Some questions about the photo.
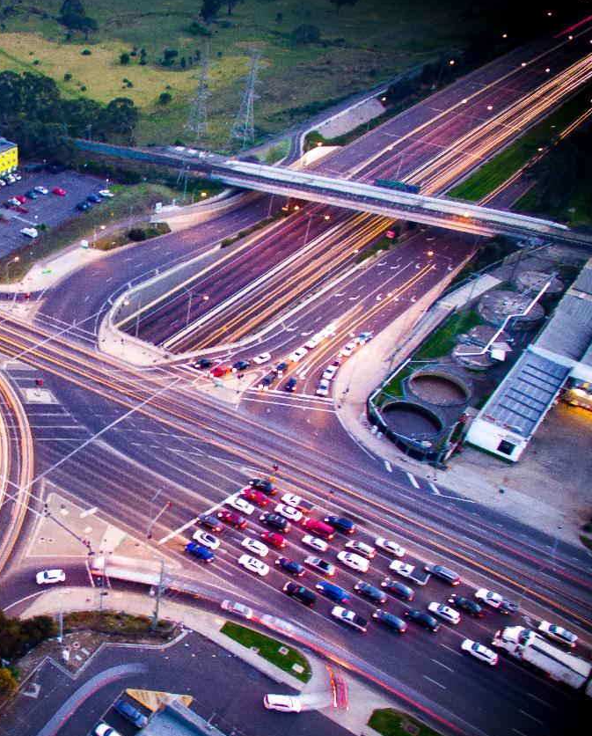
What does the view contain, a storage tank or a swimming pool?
storage tank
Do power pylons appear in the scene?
Yes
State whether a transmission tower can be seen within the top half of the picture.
Yes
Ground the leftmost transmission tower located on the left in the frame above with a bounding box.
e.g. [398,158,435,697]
[177,39,219,142]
